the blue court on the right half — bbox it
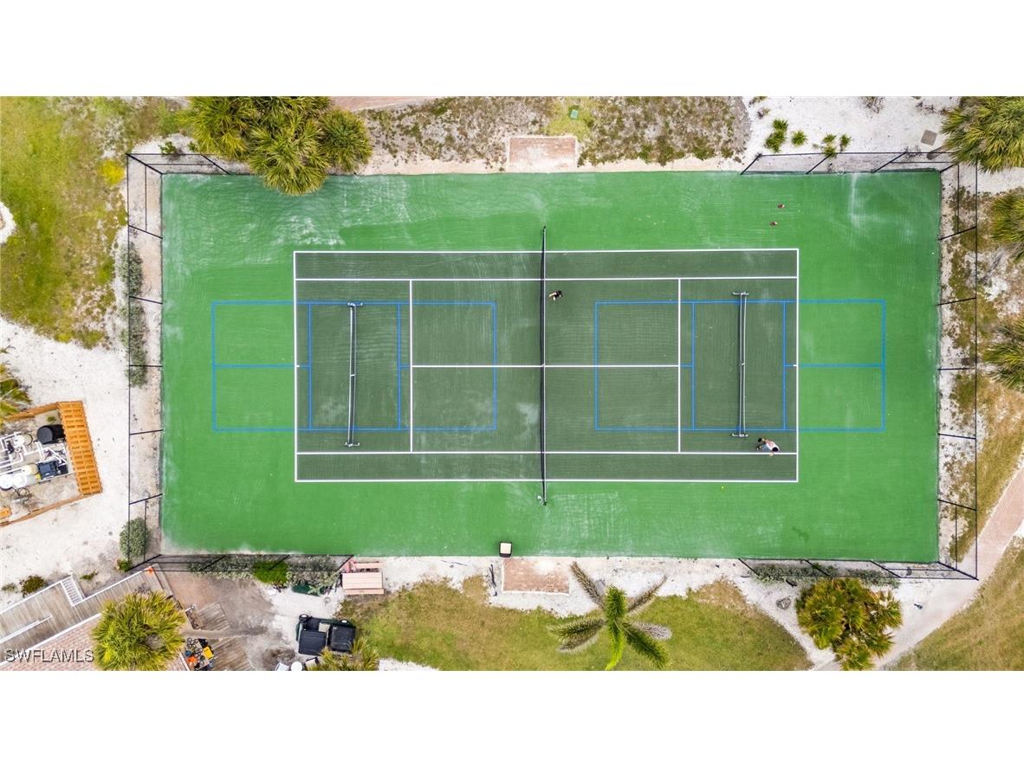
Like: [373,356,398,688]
[595,300,885,431]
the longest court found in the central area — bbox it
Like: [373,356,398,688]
[160,171,941,562]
